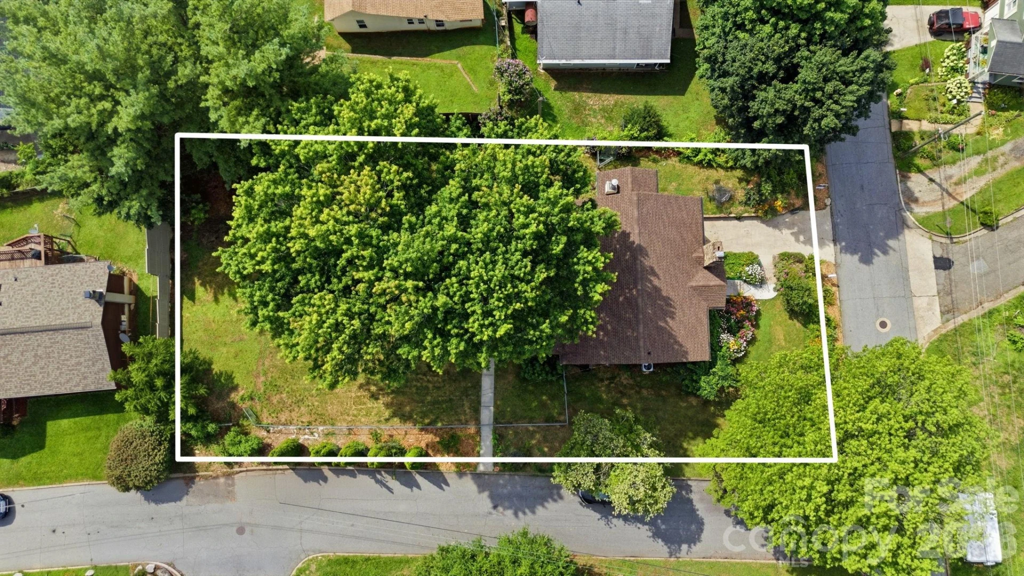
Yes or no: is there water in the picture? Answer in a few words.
No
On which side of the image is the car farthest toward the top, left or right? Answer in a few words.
right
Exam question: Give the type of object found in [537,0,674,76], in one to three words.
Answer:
house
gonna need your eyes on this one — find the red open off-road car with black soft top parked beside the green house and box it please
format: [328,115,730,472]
[932,2,986,32]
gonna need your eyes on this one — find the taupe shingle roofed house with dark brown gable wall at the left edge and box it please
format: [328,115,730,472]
[0,260,135,424]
